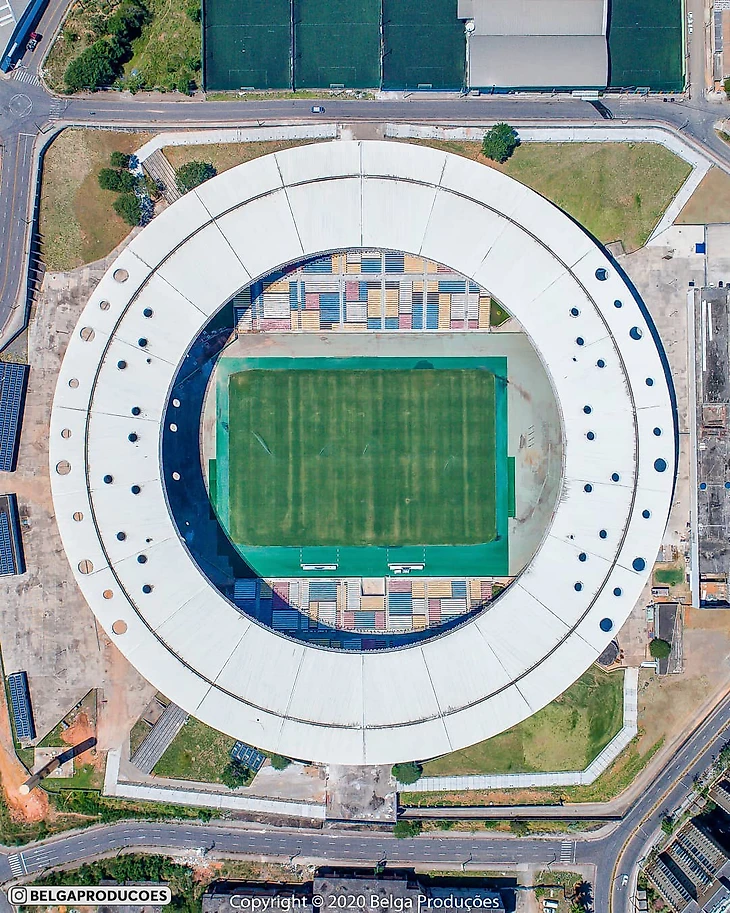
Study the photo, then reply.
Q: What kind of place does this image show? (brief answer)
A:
sports ground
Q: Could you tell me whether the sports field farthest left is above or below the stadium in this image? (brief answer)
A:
above it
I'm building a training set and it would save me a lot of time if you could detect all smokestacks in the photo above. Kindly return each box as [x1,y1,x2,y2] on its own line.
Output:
[21,757,64,794]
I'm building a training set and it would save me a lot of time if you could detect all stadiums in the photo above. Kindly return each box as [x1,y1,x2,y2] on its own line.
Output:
[49,141,675,765]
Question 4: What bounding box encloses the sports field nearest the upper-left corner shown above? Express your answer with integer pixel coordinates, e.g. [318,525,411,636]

[206,0,289,87]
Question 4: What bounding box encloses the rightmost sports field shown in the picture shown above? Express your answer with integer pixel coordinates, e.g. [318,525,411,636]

[611,0,683,90]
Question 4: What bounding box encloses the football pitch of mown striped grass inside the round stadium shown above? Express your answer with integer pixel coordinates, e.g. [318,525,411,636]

[209,357,516,577]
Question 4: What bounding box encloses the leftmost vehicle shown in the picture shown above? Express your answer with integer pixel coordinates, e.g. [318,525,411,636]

[26,32,38,48]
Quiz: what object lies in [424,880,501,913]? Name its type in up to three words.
building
